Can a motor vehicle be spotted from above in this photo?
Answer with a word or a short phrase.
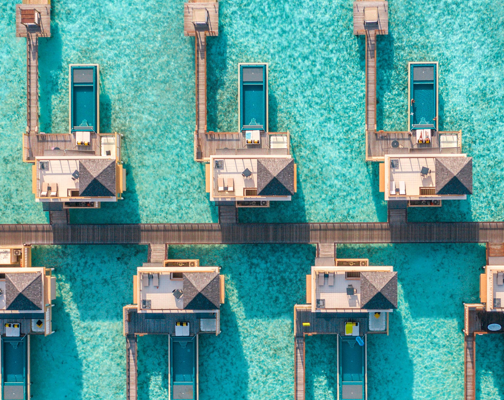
No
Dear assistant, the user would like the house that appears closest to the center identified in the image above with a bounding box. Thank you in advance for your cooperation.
[193,130,298,211]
